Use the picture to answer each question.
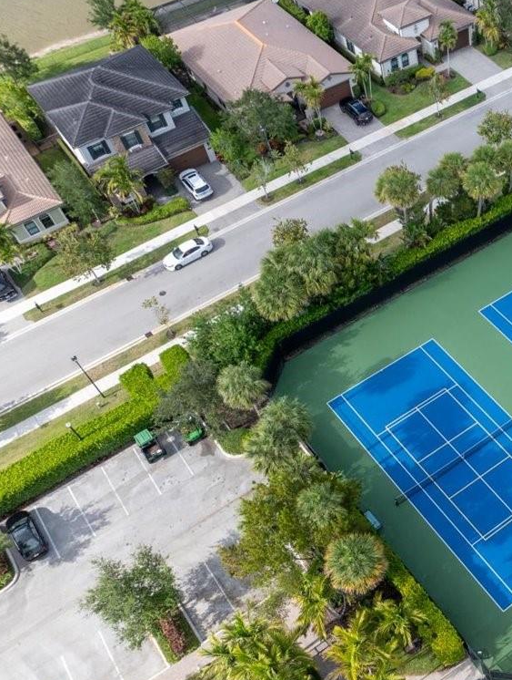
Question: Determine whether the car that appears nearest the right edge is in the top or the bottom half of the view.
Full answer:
Seen from above, the car that appears nearest the right edge lies in the top half of the view.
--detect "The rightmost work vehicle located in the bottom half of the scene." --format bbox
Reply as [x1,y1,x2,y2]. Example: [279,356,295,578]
[170,420,204,450]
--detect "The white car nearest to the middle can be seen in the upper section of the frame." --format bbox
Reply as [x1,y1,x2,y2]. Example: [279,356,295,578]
[162,231,213,264]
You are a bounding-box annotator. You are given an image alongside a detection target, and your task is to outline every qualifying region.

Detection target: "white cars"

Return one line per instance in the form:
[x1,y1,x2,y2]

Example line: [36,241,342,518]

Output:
[176,170,207,199]
[162,231,213,264]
